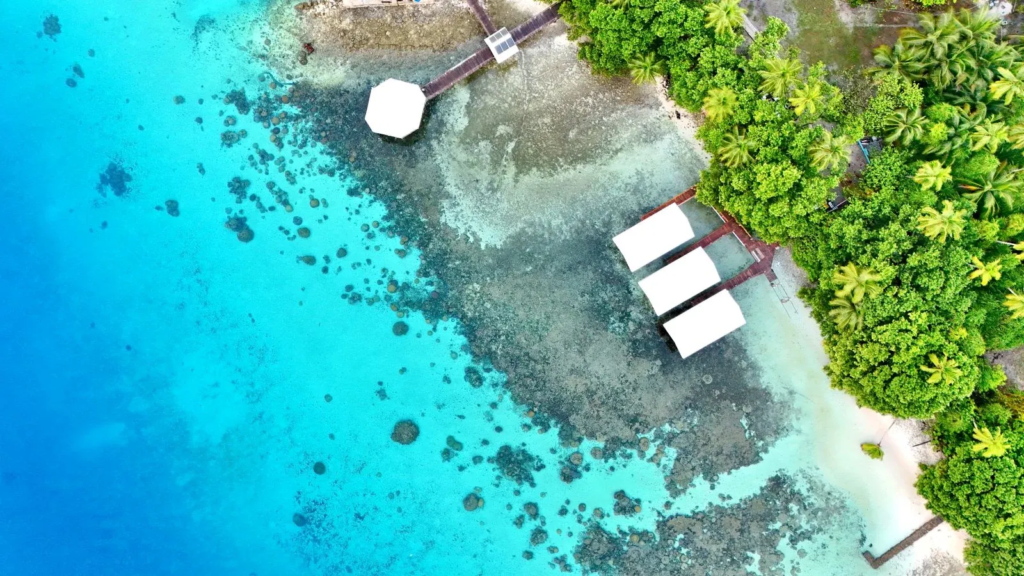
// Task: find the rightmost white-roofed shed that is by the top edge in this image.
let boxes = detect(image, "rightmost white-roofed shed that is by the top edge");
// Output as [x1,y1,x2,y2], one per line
[484,27,519,71]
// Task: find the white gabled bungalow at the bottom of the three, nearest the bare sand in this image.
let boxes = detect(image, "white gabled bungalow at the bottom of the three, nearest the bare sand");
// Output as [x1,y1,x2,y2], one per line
[664,289,745,358]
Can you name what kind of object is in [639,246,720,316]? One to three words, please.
house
